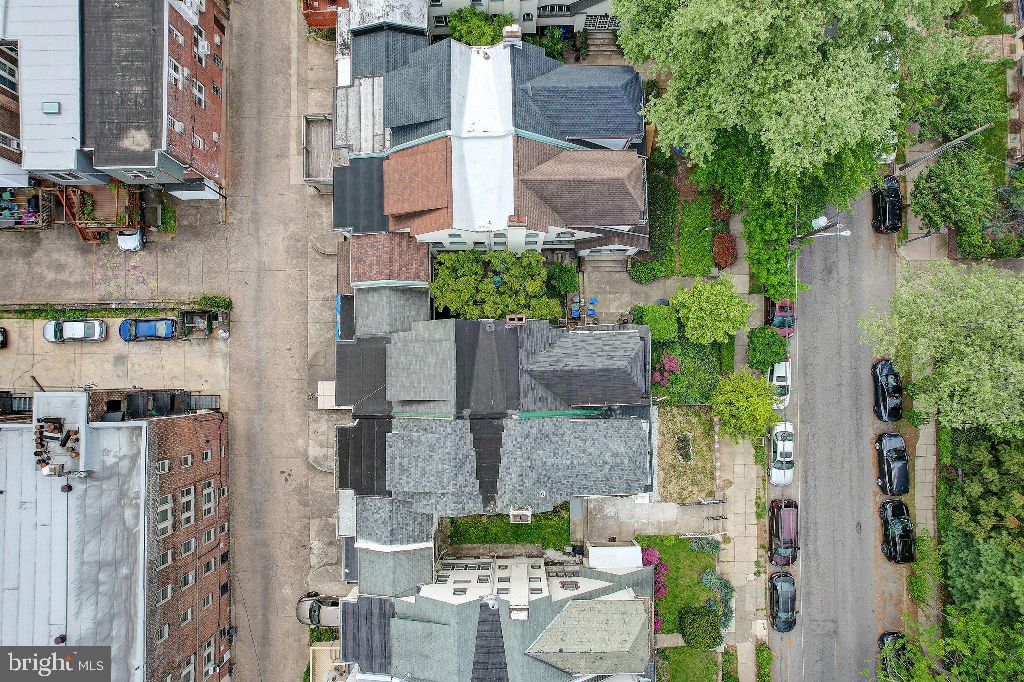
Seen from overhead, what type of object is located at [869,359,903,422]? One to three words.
car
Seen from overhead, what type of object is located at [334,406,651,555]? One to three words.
house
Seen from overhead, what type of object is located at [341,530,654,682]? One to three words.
house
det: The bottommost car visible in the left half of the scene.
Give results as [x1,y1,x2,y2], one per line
[295,592,350,627]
